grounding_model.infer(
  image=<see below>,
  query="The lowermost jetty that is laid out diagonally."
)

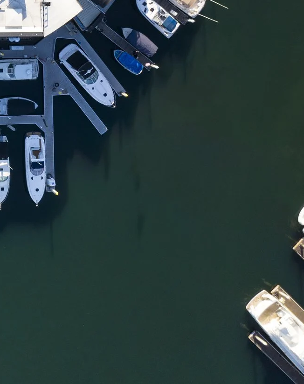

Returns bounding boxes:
[246,329,302,384]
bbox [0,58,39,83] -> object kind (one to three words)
boat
